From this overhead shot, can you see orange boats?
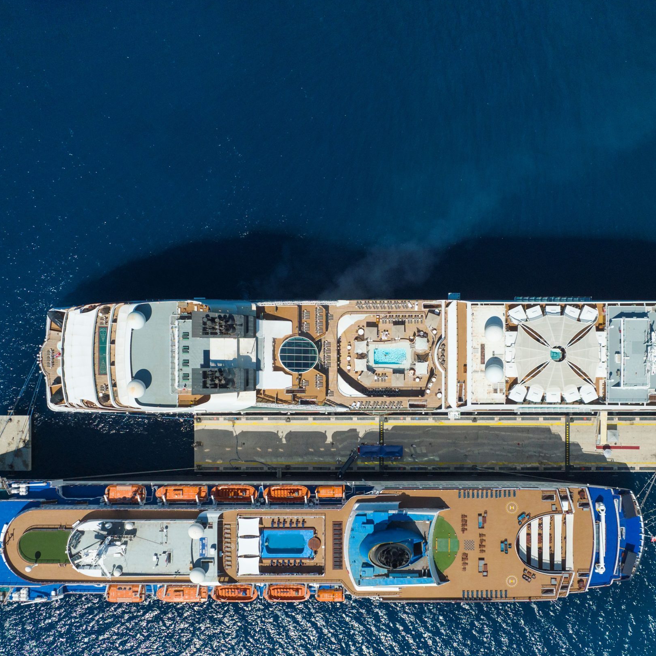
Yes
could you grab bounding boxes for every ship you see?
[37,293,656,418]
[0,476,656,608]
